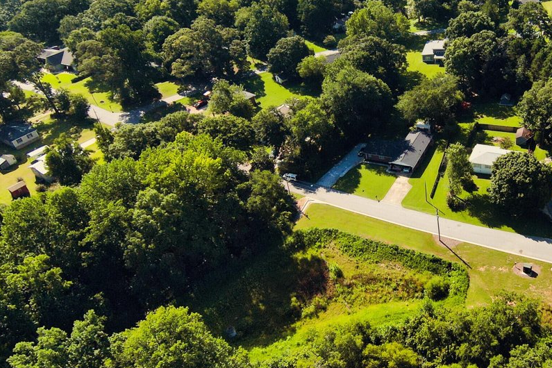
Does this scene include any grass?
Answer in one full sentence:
Yes, some grass is visible.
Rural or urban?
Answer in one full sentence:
The area is rural.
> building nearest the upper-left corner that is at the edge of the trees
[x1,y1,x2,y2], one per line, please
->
[42,51,82,72]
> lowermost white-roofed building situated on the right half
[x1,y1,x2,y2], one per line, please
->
[468,145,516,177]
